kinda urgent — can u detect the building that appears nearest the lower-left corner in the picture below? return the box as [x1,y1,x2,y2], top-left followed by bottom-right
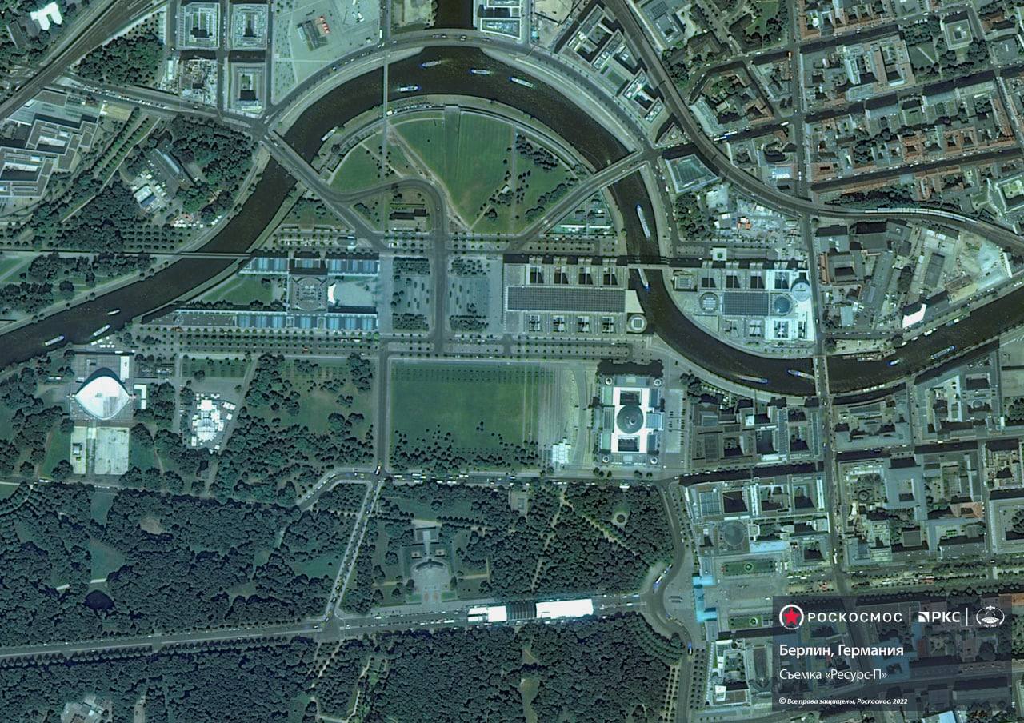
[64,694,106,723]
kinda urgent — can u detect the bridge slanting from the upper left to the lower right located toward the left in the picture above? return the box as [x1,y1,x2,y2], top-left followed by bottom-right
[260,128,317,185]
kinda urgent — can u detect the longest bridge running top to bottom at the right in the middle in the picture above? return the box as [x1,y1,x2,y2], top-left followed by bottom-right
[813,350,828,404]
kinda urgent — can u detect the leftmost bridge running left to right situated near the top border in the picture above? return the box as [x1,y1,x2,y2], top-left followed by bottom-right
[422,27,482,48]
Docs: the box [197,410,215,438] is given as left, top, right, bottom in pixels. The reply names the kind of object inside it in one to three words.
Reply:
tent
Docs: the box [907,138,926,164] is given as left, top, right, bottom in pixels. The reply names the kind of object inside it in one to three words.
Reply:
house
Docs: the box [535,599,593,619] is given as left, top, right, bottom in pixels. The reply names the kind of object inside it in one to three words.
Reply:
tent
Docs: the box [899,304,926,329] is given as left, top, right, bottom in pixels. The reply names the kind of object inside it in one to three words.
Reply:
building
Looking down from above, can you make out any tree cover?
Yes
